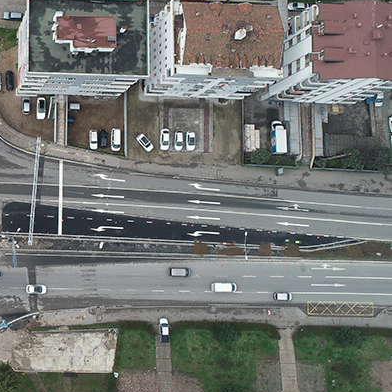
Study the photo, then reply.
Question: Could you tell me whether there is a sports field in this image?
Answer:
No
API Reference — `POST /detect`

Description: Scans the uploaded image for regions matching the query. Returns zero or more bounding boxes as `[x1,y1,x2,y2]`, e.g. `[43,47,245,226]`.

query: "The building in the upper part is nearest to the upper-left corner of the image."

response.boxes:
[14,0,151,100]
